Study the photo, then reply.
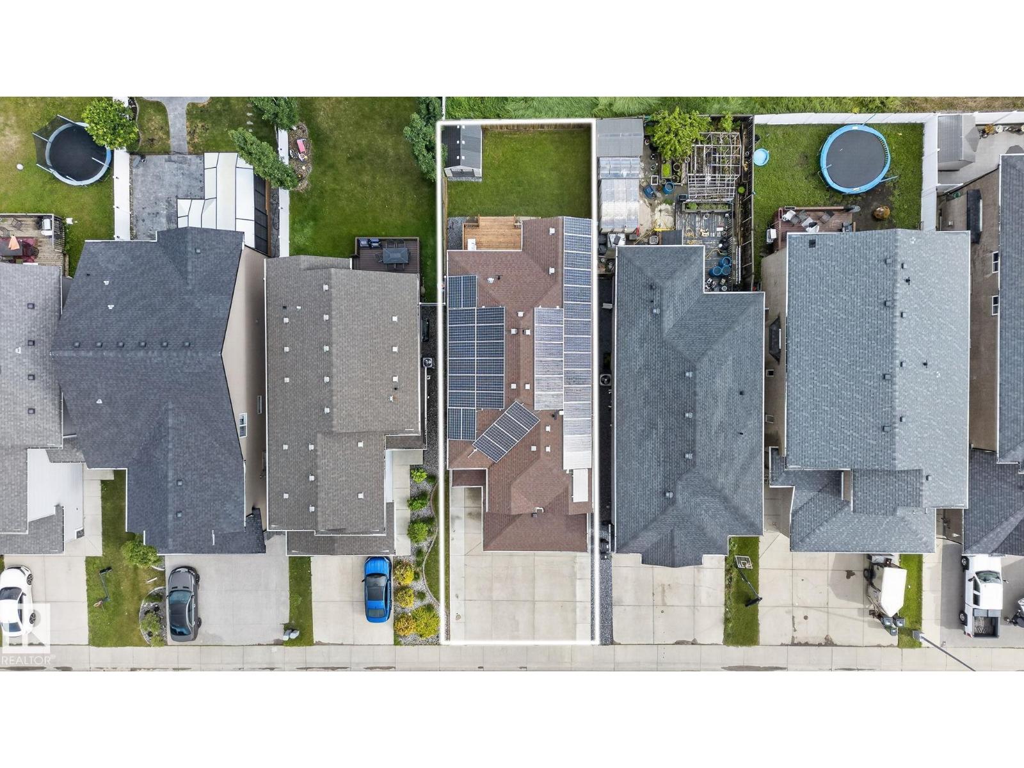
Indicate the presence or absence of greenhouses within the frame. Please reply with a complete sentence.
Yes, this view includes a greenhouse.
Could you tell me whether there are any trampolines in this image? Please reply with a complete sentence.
Yes, the image includes a trampoline.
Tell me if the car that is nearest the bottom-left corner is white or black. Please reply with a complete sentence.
The car that is nearest the bottom-left corner looks white in the image.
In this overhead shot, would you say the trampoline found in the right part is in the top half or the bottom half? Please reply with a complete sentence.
Seen from above, the trampoline found in the right part lies in the top half of the view.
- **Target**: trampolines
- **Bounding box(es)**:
[815,117,899,195]
[28,110,114,191]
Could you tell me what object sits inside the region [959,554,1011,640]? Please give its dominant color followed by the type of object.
white truck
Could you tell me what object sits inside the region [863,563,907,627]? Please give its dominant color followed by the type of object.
white trailer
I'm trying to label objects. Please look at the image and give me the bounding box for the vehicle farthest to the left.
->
[0,563,38,637]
